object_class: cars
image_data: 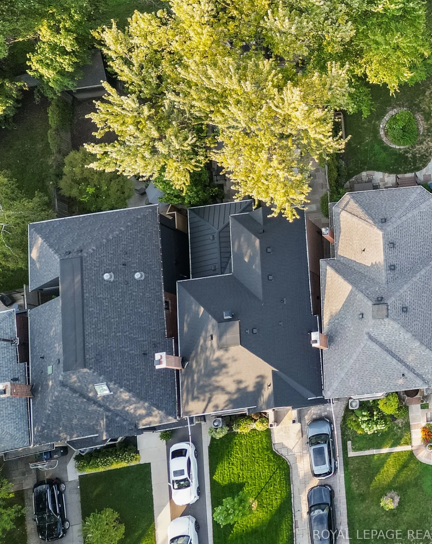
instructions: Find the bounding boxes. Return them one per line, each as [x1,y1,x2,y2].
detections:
[27,474,69,544]
[302,482,339,544]
[303,417,338,481]
[164,514,198,544]
[166,440,201,507]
